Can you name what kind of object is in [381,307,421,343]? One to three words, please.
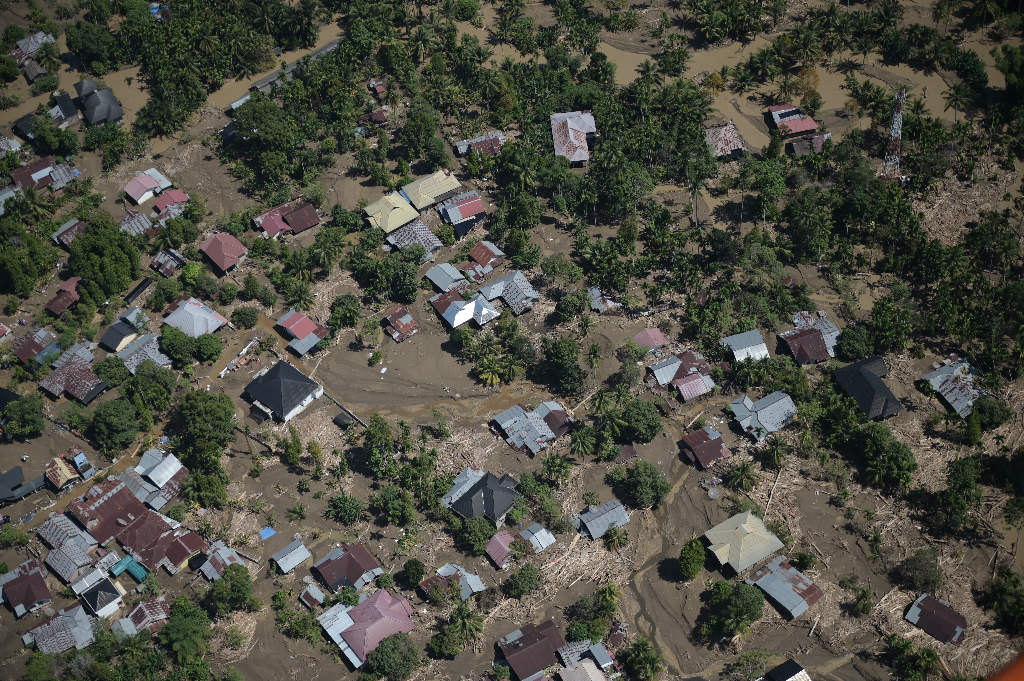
shed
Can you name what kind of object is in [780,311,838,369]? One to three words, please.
house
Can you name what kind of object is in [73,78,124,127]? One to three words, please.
house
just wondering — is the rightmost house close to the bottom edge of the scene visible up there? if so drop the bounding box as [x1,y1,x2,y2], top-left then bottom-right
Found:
[904,594,967,648]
